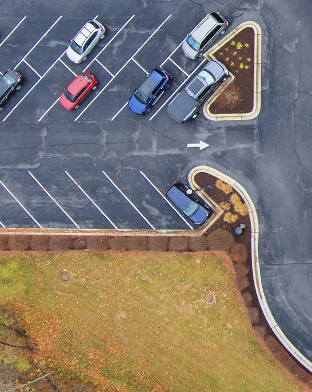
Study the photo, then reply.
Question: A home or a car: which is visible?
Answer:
car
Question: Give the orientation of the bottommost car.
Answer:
at an angle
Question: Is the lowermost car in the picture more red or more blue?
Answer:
blue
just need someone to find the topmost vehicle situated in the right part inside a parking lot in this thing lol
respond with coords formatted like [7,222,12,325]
[182,10,229,60]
